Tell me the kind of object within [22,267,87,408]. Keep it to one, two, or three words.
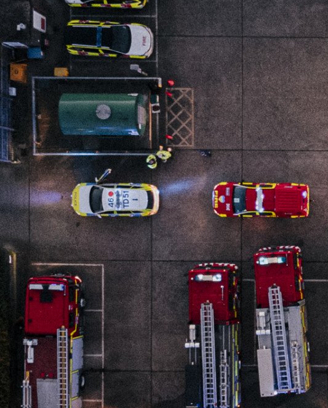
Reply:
truck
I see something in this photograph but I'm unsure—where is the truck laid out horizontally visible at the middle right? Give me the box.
[215,179,311,223]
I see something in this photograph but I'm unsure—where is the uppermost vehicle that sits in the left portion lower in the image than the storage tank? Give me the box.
[73,166,161,222]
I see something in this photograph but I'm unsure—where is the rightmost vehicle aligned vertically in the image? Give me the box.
[245,242,312,398]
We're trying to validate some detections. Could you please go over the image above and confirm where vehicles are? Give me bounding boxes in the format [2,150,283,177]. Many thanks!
[181,260,243,408]
[67,17,156,59]
[62,0,150,10]
[22,267,87,408]
[73,166,161,222]
[215,179,311,223]
[245,242,312,398]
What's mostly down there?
paved ground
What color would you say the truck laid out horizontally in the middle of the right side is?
red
